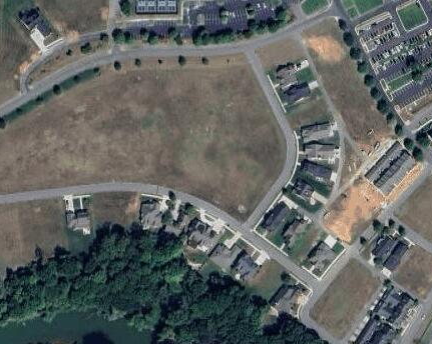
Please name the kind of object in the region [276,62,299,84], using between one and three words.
house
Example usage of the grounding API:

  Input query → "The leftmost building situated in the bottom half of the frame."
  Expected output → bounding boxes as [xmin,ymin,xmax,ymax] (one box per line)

[66,206,90,230]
